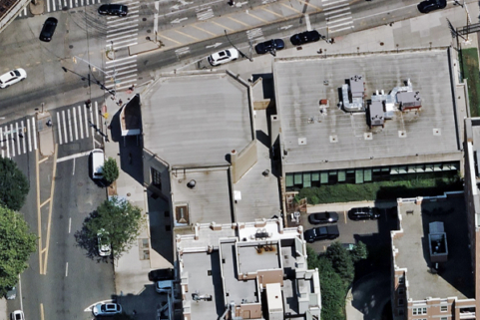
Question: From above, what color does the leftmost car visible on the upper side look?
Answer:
white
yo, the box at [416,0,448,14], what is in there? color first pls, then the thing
black car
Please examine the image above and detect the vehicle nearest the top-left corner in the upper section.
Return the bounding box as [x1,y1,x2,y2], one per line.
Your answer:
[39,16,57,43]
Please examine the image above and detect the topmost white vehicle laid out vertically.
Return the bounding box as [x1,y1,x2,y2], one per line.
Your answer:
[89,149,104,184]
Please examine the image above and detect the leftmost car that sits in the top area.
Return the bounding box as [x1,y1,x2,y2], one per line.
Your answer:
[0,68,28,89]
